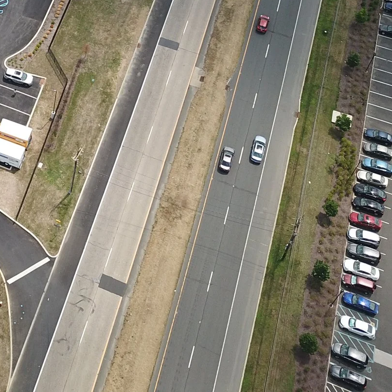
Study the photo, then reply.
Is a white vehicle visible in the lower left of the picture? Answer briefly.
No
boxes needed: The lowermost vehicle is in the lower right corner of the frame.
[328,366,367,392]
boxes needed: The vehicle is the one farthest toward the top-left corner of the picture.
[4,68,32,88]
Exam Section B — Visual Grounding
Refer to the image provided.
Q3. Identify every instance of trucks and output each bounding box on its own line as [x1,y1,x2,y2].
[0,138,26,170]
[0,118,33,151]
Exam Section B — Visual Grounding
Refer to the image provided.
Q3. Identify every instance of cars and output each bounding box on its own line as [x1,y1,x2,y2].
[347,213,382,234]
[382,5,392,15]
[331,344,369,371]
[346,245,381,267]
[353,184,387,206]
[362,129,392,148]
[4,68,32,88]
[337,317,375,342]
[361,158,392,178]
[378,26,392,38]
[350,197,385,219]
[255,15,270,36]
[343,260,379,283]
[356,171,388,190]
[328,366,367,392]
[340,273,377,298]
[341,292,379,318]
[348,229,379,249]
[249,135,267,164]
[362,143,392,163]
